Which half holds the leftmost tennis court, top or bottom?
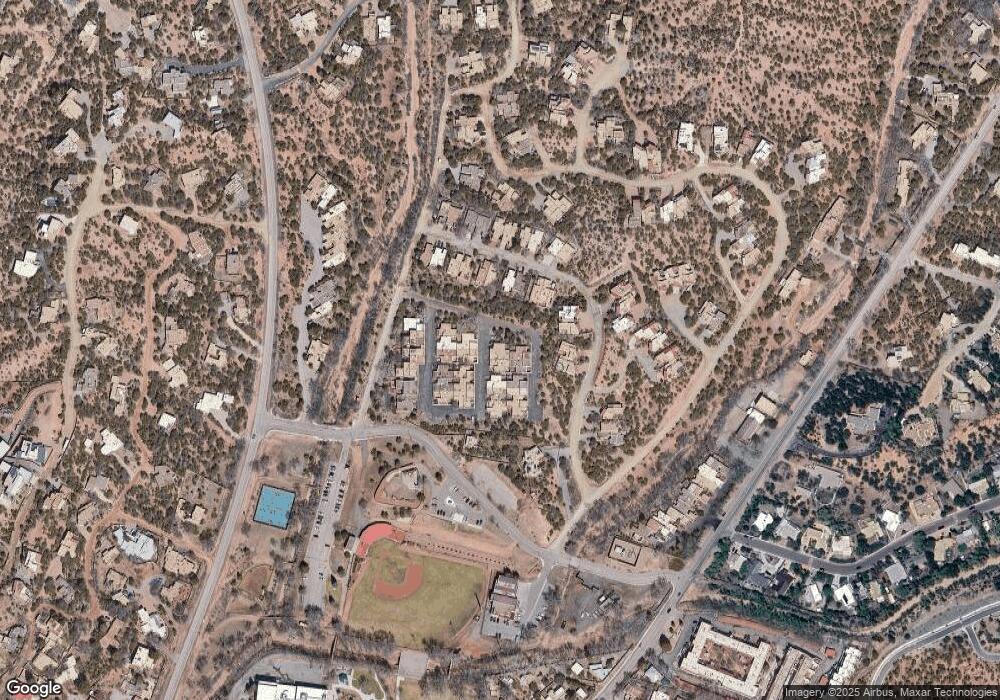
bottom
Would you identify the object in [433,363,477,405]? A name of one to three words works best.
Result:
building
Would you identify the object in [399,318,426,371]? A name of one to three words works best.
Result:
building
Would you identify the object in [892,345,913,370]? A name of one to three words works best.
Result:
house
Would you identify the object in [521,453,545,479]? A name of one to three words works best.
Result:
house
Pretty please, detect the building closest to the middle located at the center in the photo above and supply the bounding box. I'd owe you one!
[488,343,530,373]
